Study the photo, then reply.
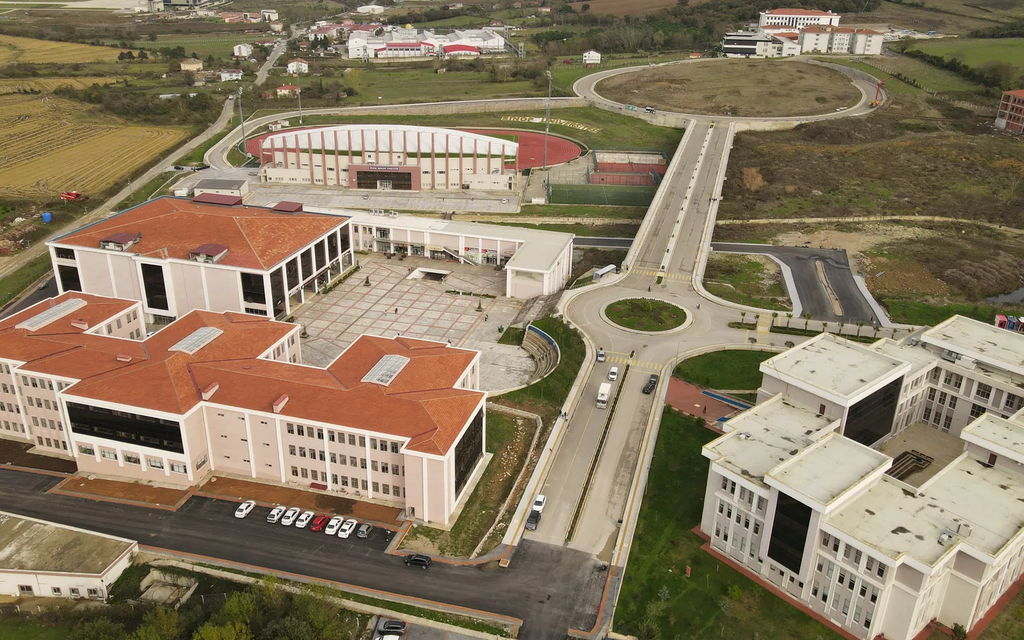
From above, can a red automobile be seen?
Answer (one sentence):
Yes, this view includes a red automobile.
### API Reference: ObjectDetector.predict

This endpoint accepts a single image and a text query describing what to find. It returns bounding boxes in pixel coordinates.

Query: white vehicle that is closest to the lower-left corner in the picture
[232,499,256,517]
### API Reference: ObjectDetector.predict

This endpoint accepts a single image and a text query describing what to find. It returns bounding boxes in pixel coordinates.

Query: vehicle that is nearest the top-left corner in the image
[55,188,91,204]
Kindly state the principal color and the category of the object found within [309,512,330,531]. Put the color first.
red car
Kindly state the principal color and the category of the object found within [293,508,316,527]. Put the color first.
white car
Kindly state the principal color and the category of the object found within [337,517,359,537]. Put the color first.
white car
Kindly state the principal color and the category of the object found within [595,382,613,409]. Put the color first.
white vehicle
